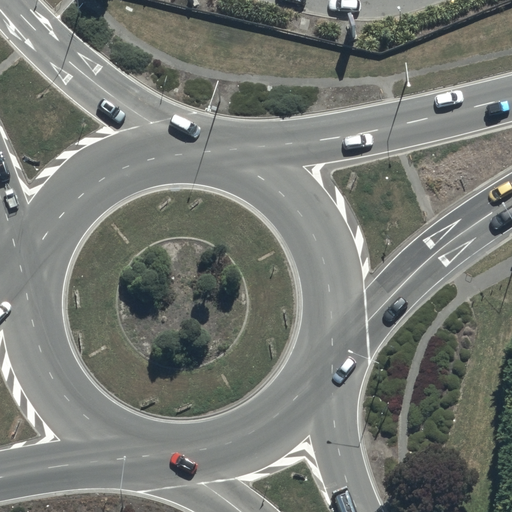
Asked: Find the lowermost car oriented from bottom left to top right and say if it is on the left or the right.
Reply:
right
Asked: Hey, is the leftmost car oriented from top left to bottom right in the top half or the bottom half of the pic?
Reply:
top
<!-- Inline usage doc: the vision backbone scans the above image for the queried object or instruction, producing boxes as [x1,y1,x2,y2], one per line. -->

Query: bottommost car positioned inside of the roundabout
[170,454,196,474]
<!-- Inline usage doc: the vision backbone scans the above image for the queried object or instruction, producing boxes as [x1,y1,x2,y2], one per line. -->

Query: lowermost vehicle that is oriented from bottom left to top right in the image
[332,356,357,385]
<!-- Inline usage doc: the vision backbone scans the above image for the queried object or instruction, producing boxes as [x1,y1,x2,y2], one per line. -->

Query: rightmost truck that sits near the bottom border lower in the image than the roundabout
[333,487,354,512]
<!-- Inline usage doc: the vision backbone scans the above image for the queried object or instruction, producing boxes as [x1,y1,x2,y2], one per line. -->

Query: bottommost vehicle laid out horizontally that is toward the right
[342,135,372,150]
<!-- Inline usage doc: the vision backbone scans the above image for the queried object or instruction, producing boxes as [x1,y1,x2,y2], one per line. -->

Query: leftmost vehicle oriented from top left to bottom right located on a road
[96,98,124,122]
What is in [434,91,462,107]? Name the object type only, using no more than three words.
car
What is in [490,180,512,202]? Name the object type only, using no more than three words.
car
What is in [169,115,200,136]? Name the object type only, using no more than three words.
vehicle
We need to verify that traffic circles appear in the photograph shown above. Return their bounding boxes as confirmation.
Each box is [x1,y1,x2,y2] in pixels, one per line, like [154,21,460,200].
[0,118,366,488]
